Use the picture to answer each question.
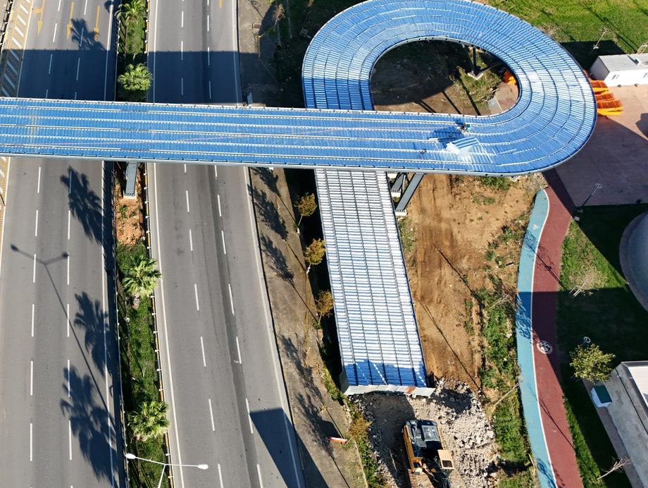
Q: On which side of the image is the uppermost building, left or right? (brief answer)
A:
right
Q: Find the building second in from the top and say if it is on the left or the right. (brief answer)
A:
right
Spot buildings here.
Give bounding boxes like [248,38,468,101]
[592,53,648,86]
[606,213,648,308]
[594,360,648,481]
